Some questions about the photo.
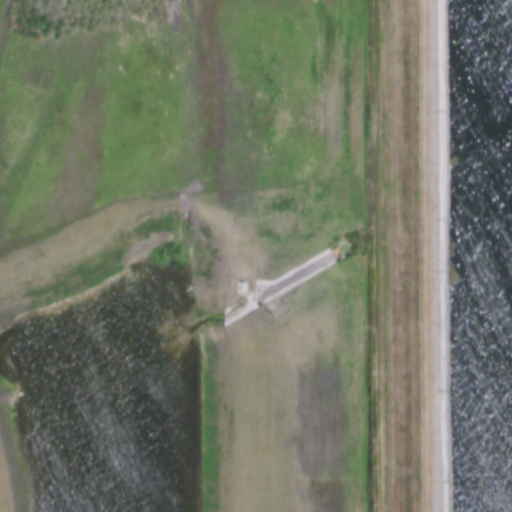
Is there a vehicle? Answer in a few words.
No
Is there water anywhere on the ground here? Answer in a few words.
Yes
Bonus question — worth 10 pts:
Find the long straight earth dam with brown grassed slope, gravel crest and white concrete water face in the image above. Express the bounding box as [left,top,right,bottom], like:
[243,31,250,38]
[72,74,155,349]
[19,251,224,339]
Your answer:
[374,0,452,512]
